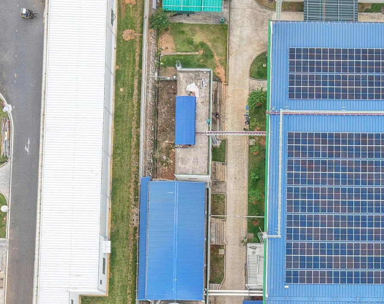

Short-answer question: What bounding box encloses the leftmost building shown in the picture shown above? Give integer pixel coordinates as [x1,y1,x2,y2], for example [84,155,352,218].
[31,0,120,304]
